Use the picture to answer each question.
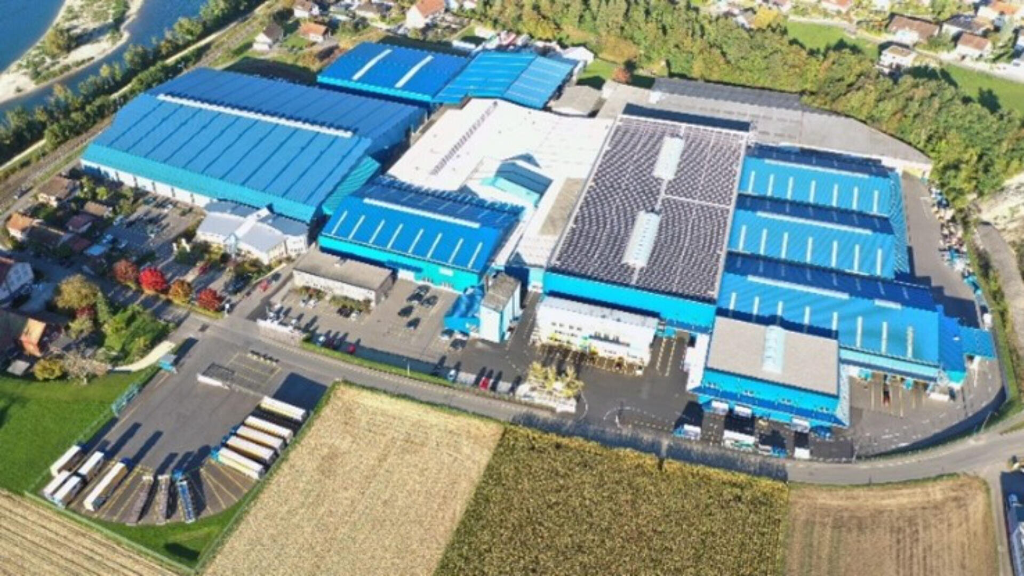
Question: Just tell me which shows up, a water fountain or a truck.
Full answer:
The one in the frame is a truck.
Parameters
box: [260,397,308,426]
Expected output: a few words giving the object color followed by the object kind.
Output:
white vehicle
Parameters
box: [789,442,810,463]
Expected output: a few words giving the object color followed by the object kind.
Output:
white vehicle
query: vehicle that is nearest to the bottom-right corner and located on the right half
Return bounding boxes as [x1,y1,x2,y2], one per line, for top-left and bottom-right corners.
[928,389,952,405]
